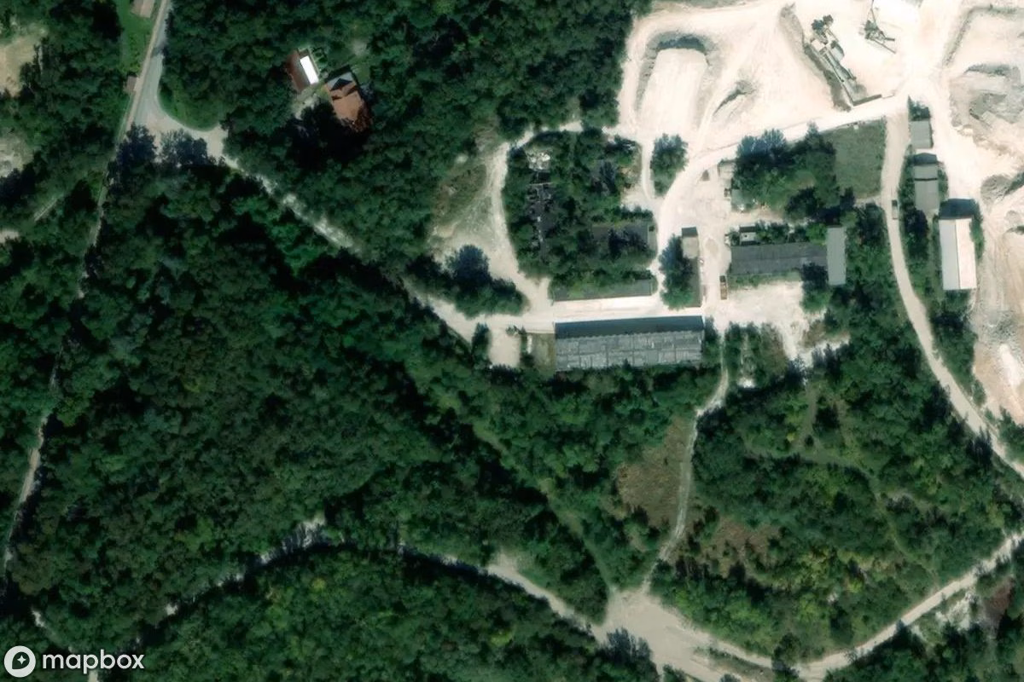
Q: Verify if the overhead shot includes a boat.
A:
No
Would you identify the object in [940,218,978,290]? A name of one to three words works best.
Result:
building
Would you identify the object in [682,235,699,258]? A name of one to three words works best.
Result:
building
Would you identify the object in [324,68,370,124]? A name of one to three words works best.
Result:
house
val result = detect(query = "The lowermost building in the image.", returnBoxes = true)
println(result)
[555,333,704,372]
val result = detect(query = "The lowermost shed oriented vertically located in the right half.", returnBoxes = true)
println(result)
[686,259,702,308]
